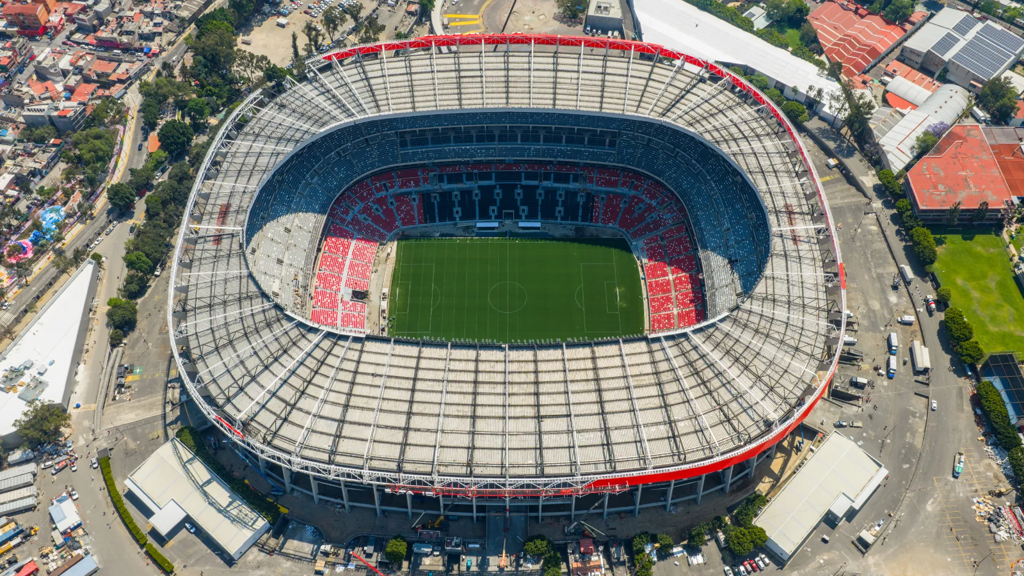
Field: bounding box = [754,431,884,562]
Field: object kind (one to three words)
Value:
building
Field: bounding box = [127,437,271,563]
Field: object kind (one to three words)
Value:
building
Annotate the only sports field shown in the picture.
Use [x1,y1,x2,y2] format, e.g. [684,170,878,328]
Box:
[387,237,647,343]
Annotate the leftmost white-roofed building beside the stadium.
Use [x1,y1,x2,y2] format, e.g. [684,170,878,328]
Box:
[0,259,103,455]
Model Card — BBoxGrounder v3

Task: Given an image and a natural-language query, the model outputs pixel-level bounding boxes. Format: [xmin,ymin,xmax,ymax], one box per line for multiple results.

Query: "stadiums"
[167,34,847,528]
